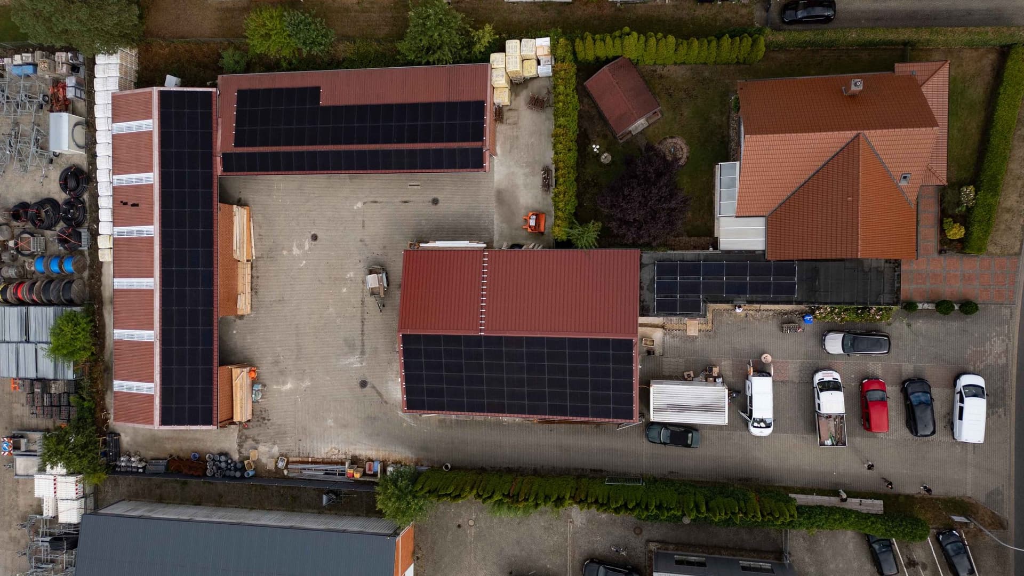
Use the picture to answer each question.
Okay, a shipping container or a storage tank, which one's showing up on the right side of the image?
shipping container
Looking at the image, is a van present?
Yes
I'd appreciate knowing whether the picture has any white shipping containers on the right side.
Yes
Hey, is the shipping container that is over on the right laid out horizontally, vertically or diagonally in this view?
horizontally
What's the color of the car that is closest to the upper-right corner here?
black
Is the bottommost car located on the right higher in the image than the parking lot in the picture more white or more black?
black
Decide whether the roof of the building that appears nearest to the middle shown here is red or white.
red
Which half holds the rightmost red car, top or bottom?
bottom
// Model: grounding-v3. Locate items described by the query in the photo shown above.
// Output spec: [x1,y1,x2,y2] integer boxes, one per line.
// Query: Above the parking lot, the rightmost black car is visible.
[899,379,936,437]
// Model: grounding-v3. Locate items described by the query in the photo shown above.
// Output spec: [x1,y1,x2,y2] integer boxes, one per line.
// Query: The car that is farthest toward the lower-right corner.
[932,525,976,576]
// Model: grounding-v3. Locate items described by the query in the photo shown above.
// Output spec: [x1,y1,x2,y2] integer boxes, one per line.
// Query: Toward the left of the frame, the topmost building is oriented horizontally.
[216,62,496,178]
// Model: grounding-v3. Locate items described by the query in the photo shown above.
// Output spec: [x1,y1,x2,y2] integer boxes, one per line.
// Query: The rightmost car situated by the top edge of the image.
[777,0,840,27]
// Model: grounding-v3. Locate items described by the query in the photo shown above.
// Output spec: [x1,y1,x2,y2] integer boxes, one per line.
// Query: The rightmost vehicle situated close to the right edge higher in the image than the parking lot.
[947,374,987,442]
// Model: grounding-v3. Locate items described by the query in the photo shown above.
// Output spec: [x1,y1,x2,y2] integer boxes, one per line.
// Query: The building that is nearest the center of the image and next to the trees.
[397,247,643,425]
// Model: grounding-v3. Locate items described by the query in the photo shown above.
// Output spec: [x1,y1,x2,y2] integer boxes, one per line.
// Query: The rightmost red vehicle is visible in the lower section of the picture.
[858,380,890,433]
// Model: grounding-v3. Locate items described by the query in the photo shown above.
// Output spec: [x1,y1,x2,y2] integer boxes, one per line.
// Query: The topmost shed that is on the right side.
[584,57,661,139]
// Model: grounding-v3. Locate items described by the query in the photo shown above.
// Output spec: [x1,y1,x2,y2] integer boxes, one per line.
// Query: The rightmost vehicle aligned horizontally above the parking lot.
[821,328,889,358]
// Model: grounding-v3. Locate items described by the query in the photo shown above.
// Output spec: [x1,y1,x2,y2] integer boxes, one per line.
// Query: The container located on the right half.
[649,380,729,426]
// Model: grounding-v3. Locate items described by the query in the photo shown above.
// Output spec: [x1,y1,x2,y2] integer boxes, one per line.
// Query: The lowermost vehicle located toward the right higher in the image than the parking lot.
[645,422,700,449]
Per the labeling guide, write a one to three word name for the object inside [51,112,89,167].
trailer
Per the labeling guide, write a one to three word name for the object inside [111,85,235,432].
building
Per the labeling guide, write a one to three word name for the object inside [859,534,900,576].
car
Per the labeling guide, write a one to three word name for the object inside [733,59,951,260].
house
